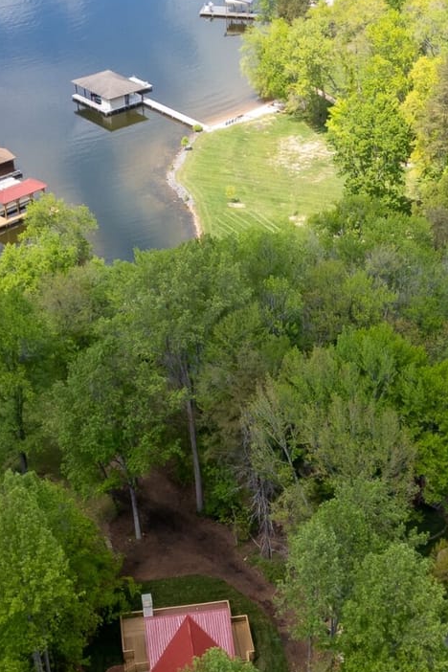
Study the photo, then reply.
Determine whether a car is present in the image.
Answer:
No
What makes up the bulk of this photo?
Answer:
trees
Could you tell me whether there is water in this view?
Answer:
Yes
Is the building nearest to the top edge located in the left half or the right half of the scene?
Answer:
left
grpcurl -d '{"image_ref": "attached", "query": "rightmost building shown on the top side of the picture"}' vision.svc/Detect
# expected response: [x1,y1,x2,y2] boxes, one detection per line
[58,76,209,133]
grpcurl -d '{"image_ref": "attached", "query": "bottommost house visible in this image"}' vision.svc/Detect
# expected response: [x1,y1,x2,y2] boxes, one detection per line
[111,603,246,672]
